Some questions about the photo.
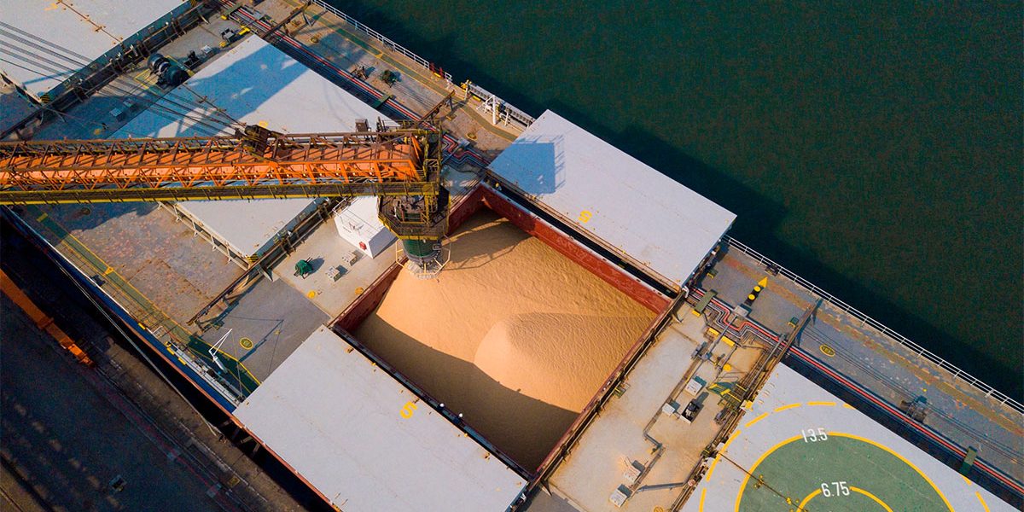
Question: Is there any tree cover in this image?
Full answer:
No, the scene doesn't show any tree cover.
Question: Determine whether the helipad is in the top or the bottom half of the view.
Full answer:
It is in the bottom half that the helipad appears.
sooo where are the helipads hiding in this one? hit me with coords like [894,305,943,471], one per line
[700,402,986,512]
